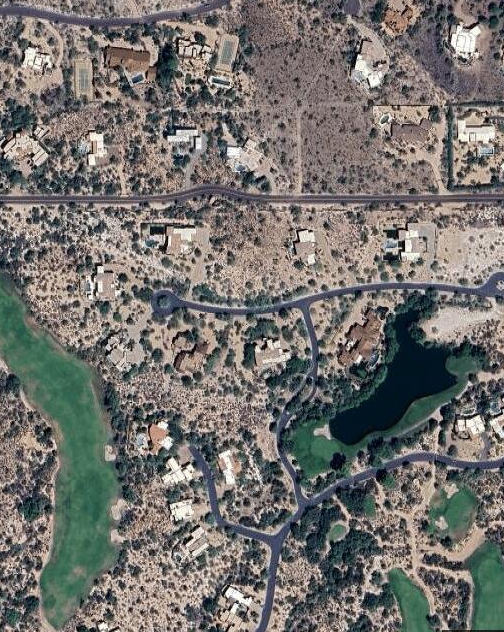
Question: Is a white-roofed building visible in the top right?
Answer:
Yes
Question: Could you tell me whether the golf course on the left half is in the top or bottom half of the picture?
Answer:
bottom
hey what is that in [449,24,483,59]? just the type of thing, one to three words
house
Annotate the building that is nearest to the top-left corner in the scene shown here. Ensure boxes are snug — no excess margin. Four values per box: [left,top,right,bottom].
[21,46,55,74]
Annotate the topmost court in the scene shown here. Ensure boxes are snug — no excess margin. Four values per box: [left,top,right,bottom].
[216,34,238,71]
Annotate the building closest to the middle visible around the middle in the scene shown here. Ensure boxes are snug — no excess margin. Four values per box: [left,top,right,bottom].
[255,338,291,366]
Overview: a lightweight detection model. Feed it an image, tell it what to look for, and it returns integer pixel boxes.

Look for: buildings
[170,499,194,522]
[184,525,211,559]
[449,24,483,59]
[3,132,50,168]
[106,46,157,82]
[166,226,197,256]
[457,119,496,146]
[338,312,383,365]
[85,265,121,303]
[398,230,428,263]
[352,39,384,90]
[167,456,195,485]
[219,586,253,632]
[294,229,316,266]
[488,408,504,439]
[148,419,175,454]
[174,336,210,372]
[166,129,202,151]
[226,139,265,173]
[255,338,291,366]
[97,621,121,632]
[87,132,108,167]
[390,116,434,141]
[178,39,213,62]
[105,336,133,372]
[384,7,414,35]
[457,414,485,435]
[218,448,242,485]
[21,46,55,74]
